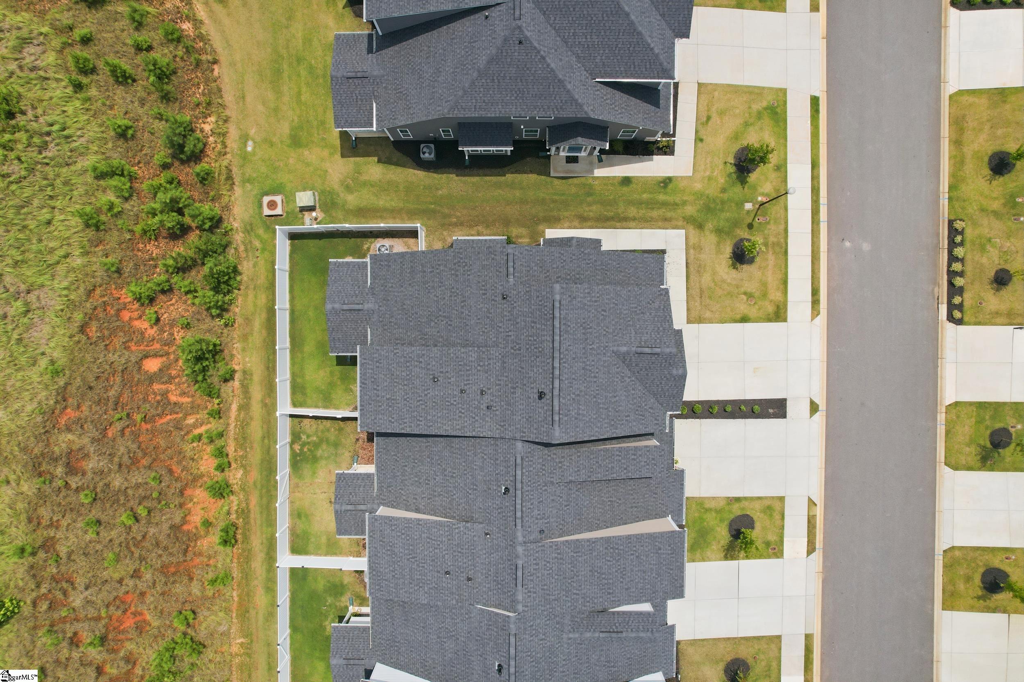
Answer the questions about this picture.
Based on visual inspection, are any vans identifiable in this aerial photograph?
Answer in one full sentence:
No, no van can be seen from above.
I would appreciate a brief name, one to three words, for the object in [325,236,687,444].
house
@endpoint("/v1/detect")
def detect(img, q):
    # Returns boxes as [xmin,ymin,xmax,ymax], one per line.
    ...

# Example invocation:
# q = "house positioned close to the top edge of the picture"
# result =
[331,0,693,160]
